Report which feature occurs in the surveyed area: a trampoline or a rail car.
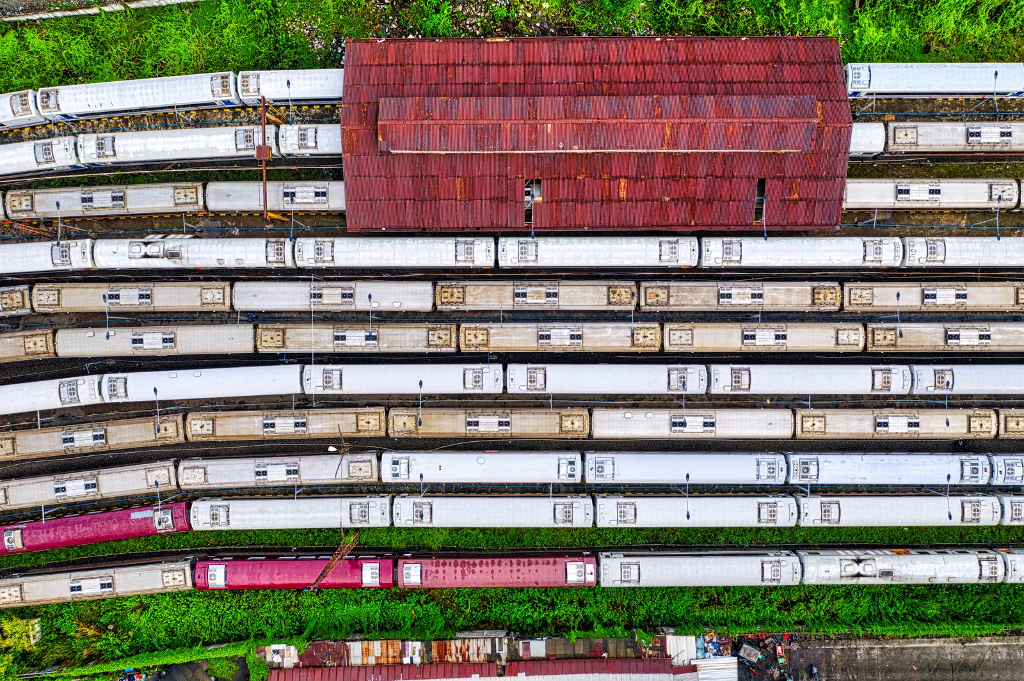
rail car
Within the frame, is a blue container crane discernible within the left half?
No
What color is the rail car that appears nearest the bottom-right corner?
white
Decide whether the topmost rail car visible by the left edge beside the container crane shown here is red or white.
white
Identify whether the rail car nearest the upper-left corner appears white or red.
white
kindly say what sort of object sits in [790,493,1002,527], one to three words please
rail car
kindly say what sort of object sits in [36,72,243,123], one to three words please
rail car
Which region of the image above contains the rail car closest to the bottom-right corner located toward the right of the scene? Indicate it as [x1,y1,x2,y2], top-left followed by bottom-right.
[991,549,1024,584]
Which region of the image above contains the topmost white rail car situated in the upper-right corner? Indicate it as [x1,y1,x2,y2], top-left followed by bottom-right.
[841,62,1024,100]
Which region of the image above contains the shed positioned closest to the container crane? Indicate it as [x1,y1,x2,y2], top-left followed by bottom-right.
[341,37,850,232]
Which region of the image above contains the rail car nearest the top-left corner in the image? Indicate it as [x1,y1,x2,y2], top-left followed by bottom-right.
[0,89,51,133]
